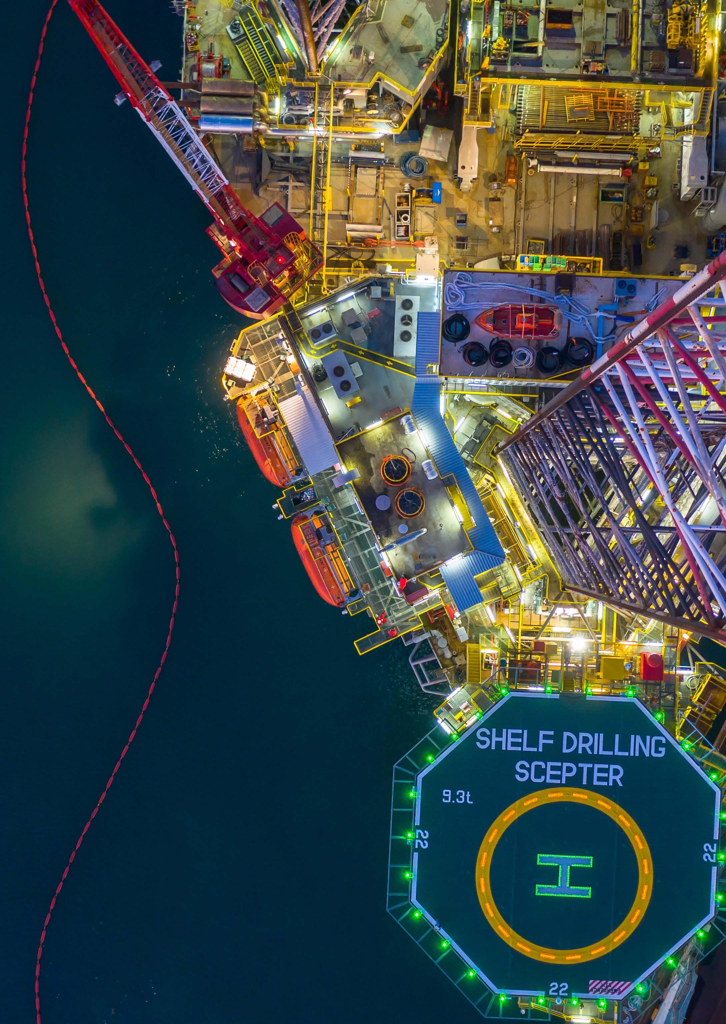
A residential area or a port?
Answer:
port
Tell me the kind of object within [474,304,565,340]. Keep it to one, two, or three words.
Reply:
boat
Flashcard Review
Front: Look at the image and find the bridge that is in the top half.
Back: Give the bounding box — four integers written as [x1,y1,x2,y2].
[309,83,334,292]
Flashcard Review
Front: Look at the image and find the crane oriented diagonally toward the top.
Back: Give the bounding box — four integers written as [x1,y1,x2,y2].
[64,0,326,328]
